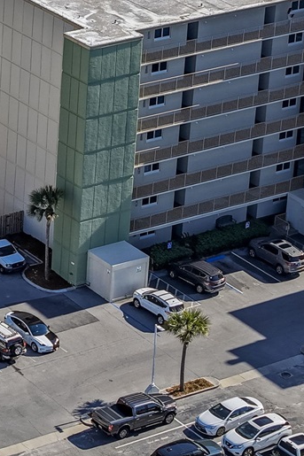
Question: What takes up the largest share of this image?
buildings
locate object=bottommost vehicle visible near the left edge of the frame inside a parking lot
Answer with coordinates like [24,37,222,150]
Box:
[2,307,56,349]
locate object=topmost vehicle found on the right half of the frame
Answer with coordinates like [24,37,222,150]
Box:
[239,235,304,274]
